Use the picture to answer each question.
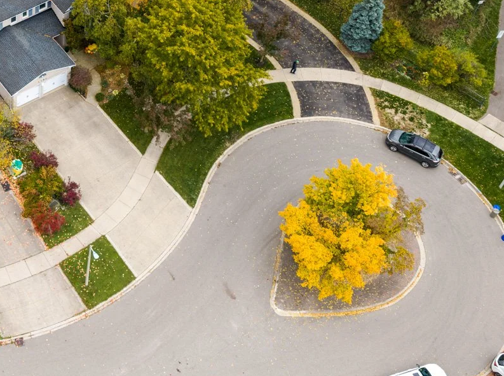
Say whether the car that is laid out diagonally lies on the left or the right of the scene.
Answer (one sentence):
You can find the car that is laid out diagonally on the right side of the picture.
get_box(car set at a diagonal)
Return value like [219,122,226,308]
[382,122,447,171]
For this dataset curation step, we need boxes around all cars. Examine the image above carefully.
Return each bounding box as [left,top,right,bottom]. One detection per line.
[484,342,504,376]
[382,122,447,171]
[381,360,447,376]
